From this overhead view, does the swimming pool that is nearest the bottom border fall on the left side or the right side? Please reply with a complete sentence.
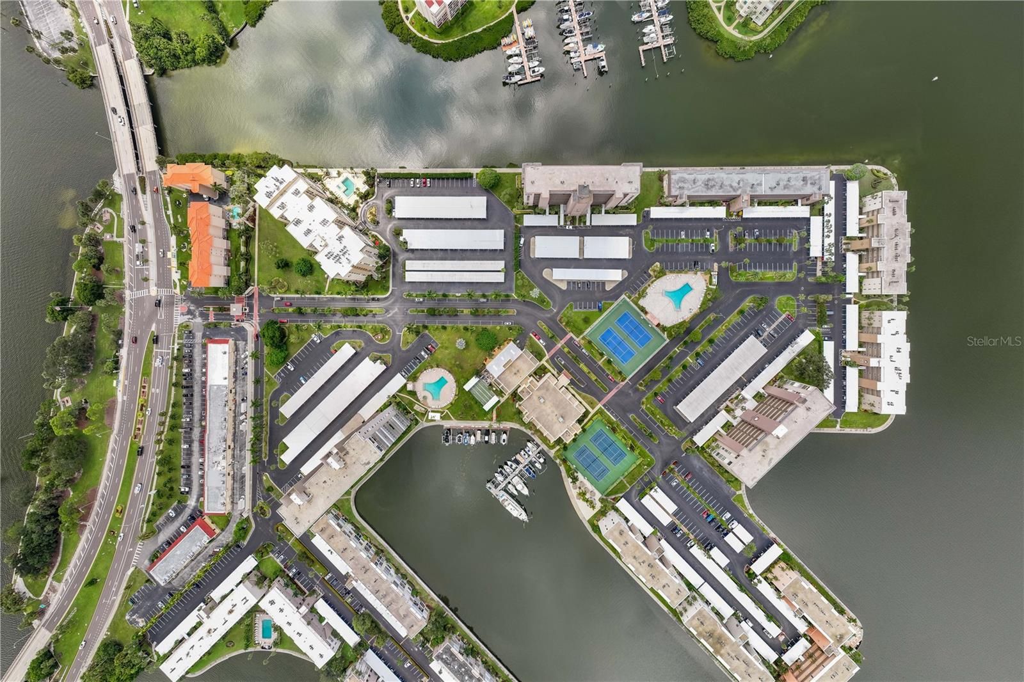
The swimming pool that is nearest the bottom border sits on the left side.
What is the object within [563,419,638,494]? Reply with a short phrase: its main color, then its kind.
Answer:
green tennis court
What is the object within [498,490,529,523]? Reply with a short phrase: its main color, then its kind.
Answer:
white boat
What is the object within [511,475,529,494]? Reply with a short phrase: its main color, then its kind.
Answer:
white boat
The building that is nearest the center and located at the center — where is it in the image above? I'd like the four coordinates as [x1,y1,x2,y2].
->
[487,341,539,396]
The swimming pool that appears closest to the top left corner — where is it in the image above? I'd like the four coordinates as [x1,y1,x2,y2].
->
[225,205,243,223]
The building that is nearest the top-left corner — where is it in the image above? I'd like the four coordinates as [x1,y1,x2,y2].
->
[163,162,226,193]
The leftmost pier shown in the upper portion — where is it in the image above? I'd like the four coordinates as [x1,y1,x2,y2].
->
[513,7,541,85]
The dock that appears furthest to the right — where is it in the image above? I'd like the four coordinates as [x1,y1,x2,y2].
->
[639,0,674,66]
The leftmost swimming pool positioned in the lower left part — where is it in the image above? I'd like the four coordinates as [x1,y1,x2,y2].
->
[254,612,280,645]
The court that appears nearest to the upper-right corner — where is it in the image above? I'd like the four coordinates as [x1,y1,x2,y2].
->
[584,298,667,377]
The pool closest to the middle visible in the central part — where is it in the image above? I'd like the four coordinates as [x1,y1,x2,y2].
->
[416,367,456,408]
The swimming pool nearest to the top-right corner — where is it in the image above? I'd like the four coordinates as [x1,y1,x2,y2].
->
[640,272,707,325]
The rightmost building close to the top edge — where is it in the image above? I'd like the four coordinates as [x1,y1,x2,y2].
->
[728,0,781,38]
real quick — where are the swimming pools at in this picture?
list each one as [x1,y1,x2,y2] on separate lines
[225,205,243,223]
[325,172,368,204]
[416,367,456,408]
[254,612,280,645]
[640,272,707,325]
